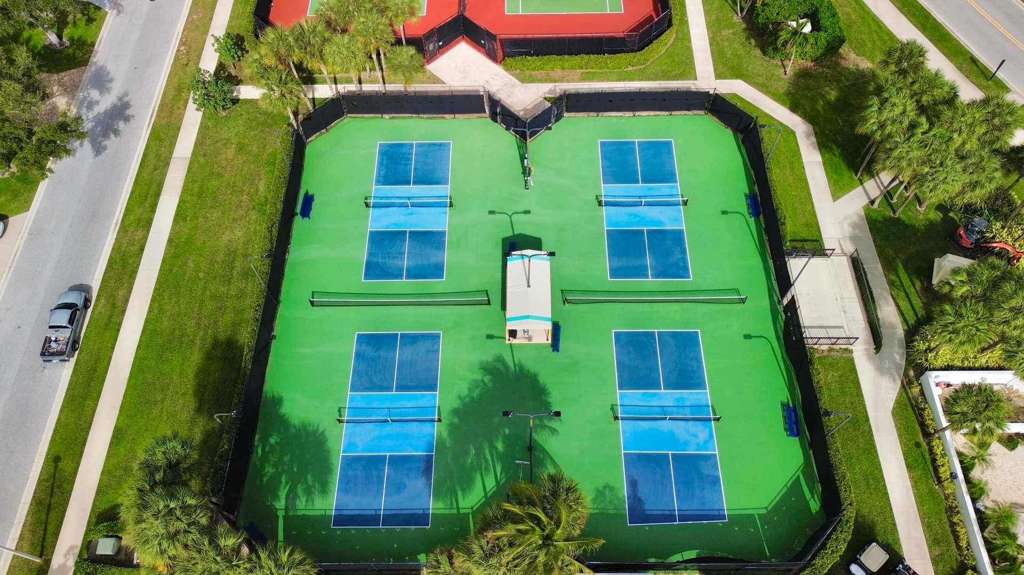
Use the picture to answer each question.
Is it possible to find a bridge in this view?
No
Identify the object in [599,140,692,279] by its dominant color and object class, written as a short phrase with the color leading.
blue sports court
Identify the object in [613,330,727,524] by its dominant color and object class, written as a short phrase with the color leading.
blue sports court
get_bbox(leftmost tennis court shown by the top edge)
[263,0,464,66]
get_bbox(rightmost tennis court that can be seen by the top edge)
[462,0,668,65]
